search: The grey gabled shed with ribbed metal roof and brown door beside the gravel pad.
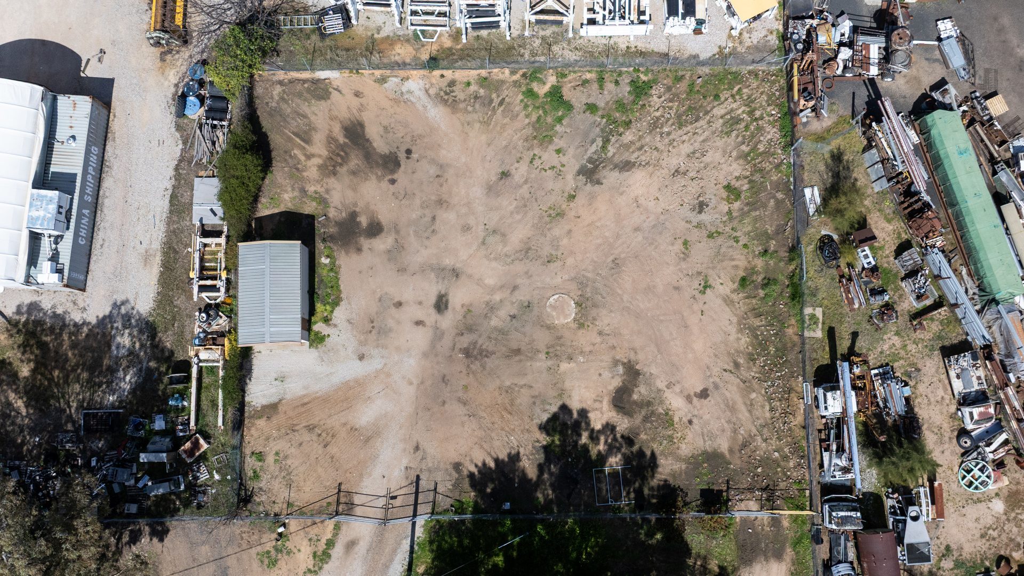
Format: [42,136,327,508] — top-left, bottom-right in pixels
[236,240,308,346]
